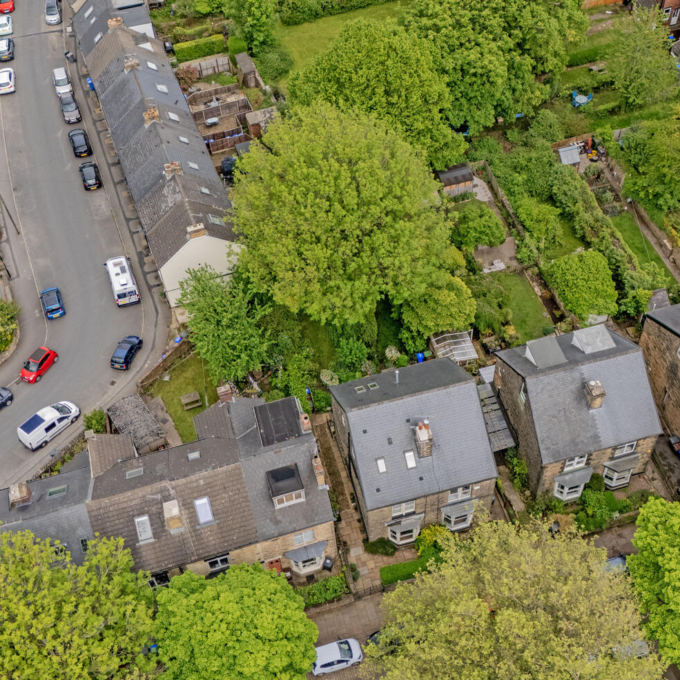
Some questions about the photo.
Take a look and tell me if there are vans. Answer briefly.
Yes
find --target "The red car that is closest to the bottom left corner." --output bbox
[17,346,61,384]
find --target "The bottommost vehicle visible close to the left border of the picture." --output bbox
[15,402,81,451]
